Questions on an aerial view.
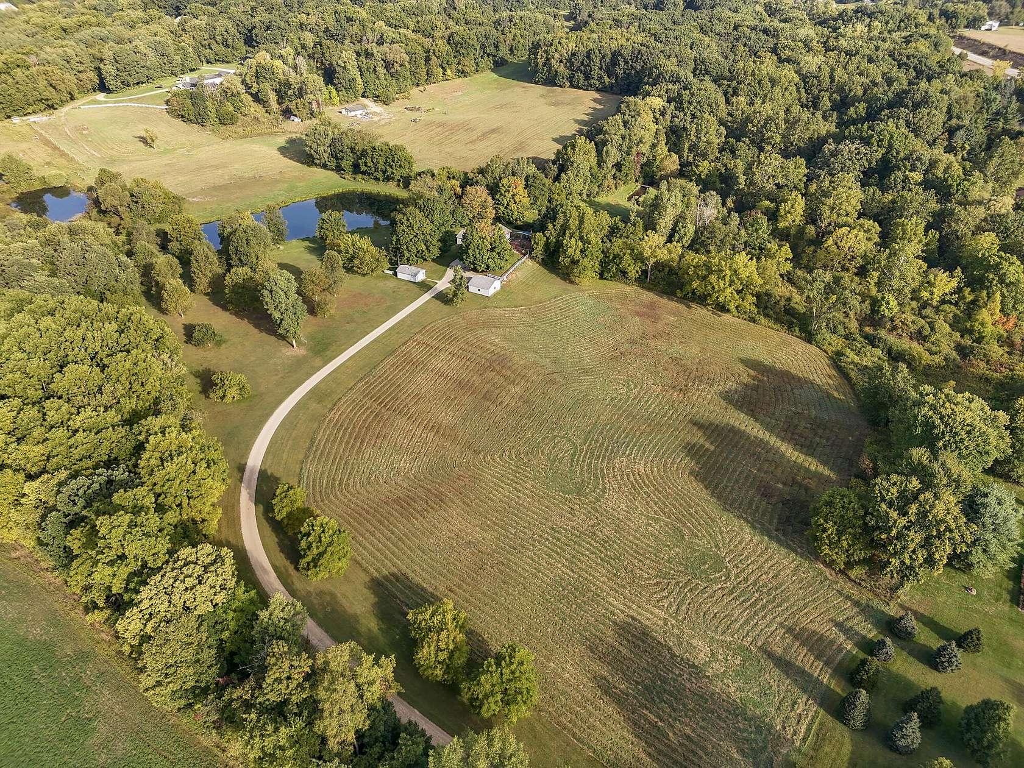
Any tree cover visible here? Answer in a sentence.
Yes, tree cover shows up in the scene.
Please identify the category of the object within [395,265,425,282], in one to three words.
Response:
shed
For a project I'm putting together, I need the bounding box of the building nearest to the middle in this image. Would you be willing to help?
[467,275,502,296]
